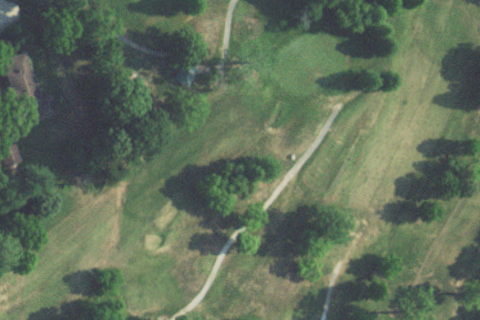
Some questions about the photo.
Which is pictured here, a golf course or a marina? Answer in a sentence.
What you see here is a golf course.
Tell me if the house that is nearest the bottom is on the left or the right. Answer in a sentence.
You can find the house that is nearest the bottom on the left side of the picture.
